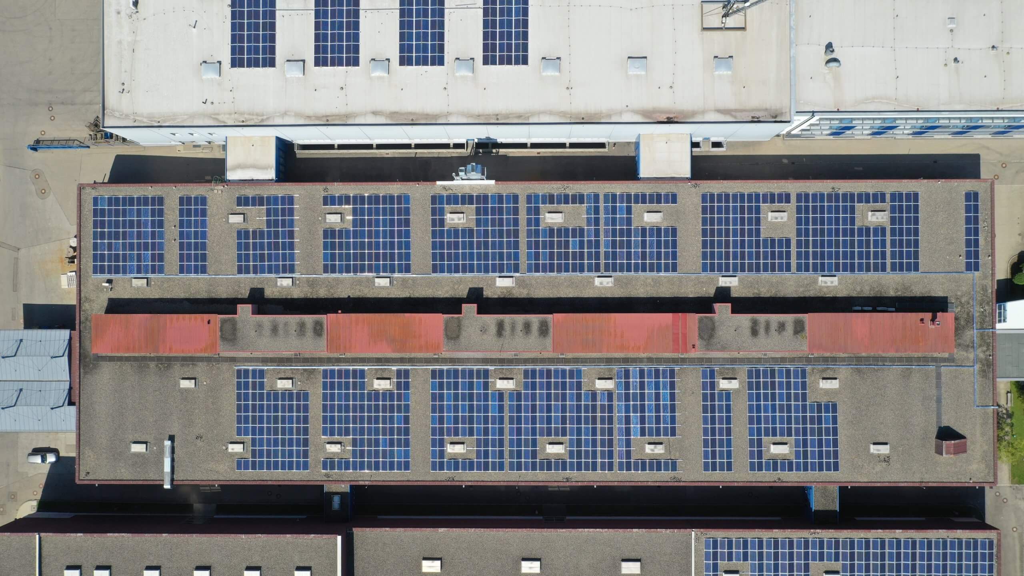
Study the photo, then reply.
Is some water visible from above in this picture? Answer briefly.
No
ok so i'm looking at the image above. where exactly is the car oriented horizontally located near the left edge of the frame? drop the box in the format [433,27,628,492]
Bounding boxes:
[26,451,60,465]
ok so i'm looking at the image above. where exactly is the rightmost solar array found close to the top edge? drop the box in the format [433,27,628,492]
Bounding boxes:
[482,0,528,66]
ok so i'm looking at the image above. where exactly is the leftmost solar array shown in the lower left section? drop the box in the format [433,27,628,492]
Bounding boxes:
[236,368,310,472]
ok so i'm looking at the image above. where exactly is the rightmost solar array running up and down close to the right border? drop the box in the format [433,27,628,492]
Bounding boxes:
[962,191,981,272]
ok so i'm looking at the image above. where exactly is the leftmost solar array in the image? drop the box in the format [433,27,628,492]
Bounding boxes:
[93,195,165,275]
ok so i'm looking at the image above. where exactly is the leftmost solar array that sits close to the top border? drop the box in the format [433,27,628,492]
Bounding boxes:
[231,0,276,68]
